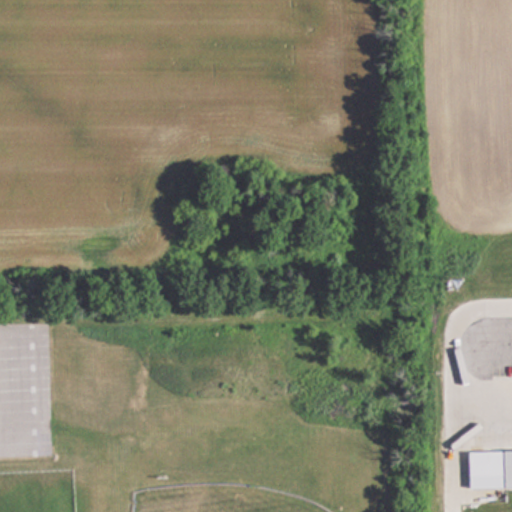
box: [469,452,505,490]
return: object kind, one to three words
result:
shed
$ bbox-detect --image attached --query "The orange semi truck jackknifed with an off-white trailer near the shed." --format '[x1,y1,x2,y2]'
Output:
[446,424,482,459]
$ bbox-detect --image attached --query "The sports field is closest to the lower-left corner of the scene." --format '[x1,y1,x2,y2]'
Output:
[0,470,76,512]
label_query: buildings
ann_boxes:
[469,452,505,490]
[506,450,512,492]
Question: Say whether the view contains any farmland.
Yes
